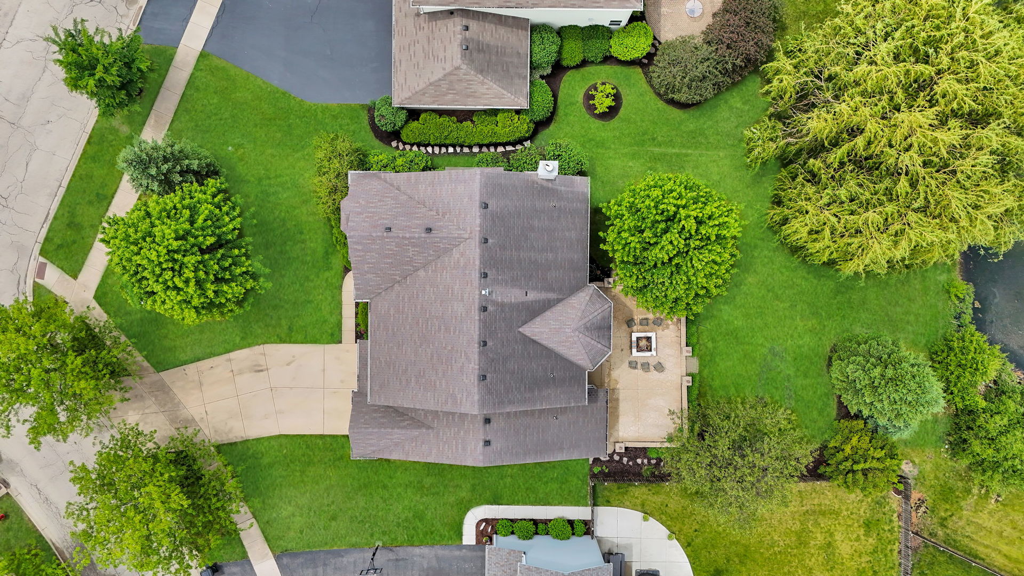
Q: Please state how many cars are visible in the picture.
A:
0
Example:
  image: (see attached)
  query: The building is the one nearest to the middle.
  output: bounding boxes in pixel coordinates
[341,161,614,467]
